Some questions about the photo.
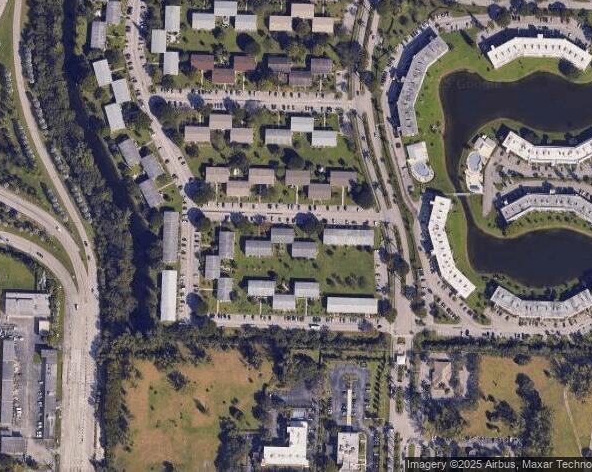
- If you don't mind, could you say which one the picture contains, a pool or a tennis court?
pool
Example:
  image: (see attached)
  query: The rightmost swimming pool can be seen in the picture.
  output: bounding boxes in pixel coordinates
[465,150,487,200]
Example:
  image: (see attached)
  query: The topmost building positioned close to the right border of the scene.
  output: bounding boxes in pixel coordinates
[487,34,592,71]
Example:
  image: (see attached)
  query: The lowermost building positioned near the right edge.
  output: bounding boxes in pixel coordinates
[490,286,592,320]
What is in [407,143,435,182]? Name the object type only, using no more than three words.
swimming pool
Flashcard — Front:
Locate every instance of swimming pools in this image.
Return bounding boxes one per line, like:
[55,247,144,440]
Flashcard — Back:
[465,150,487,200]
[407,143,435,182]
